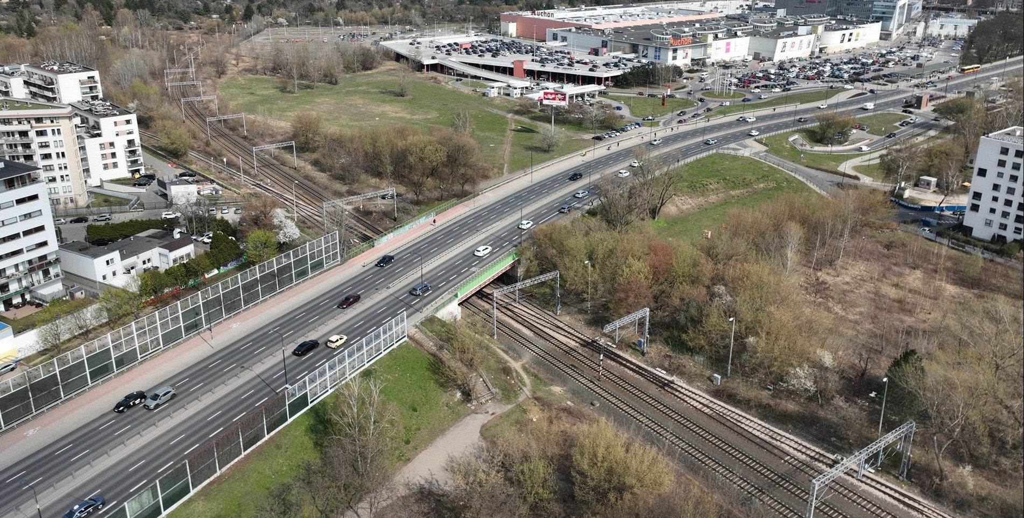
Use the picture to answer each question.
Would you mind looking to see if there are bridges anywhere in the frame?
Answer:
Yes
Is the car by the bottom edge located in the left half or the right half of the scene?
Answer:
left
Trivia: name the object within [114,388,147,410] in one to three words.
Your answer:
car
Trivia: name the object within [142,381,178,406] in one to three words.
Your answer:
car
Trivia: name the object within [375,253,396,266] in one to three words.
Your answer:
vehicle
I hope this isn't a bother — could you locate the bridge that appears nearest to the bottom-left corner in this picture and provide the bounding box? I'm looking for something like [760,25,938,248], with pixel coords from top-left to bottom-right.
[381,206,525,315]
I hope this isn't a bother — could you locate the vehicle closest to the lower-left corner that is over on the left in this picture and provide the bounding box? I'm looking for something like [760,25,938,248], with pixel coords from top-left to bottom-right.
[60,490,107,518]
